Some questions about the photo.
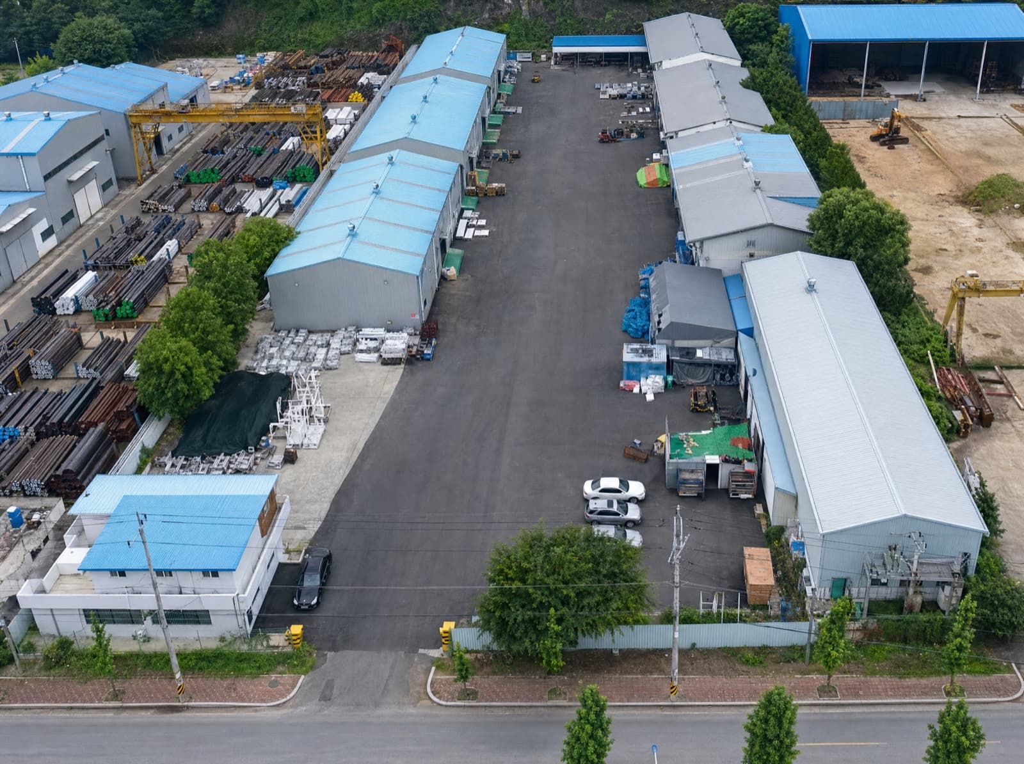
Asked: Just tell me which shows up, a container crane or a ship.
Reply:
container crane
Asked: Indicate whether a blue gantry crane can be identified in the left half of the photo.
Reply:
No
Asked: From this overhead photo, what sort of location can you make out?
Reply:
industrial area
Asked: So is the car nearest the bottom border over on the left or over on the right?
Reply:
left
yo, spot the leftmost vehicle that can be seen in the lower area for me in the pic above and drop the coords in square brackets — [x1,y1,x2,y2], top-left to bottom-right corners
[288,555,334,613]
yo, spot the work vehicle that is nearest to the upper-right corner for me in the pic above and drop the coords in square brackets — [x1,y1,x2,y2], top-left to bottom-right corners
[871,107,908,148]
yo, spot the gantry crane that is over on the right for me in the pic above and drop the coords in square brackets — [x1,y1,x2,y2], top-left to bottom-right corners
[938,269,1024,385]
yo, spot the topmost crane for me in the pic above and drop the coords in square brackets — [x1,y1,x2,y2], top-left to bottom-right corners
[120,95,319,187]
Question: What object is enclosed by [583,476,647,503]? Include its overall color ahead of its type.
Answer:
white car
